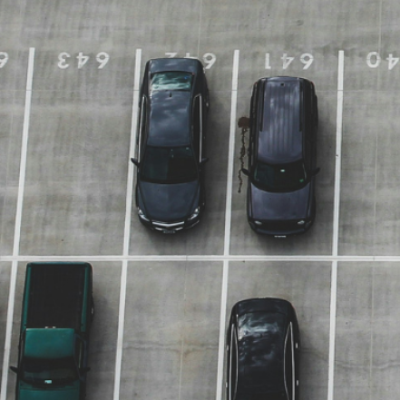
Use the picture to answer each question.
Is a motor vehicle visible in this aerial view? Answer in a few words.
Yes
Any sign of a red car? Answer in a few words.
No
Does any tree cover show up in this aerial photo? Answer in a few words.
No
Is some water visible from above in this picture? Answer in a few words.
No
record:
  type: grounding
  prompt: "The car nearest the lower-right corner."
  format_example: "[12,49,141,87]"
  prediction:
[223,297,301,400]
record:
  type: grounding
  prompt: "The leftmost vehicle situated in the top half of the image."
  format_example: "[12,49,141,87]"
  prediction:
[125,57,214,236]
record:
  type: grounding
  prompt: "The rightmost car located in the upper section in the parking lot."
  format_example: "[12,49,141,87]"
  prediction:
[237,76,325,238]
